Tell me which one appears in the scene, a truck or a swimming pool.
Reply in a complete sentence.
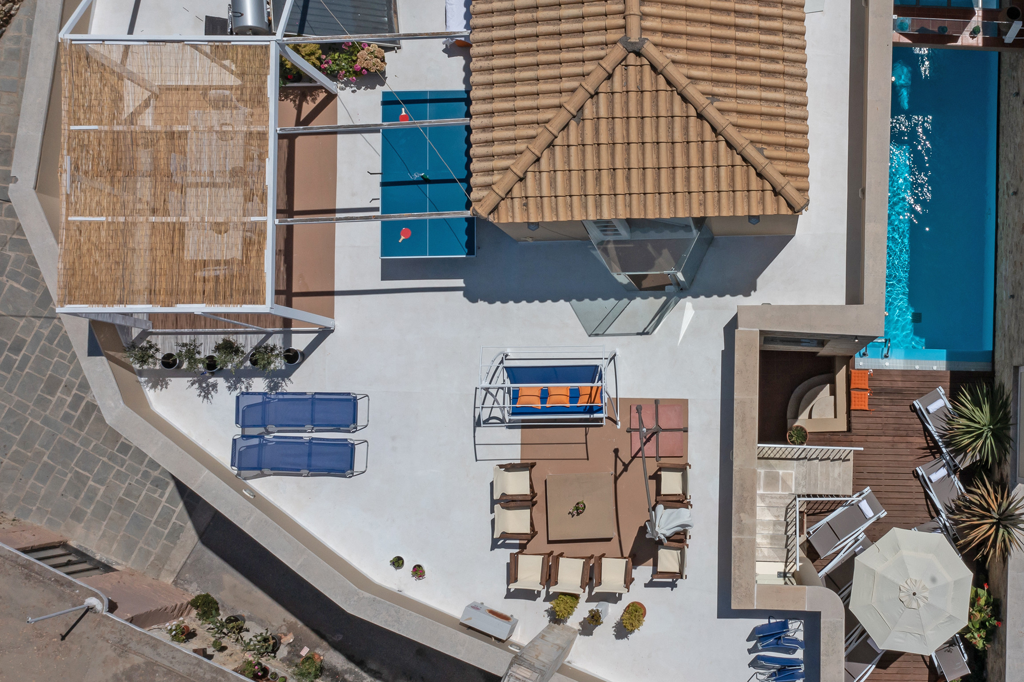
The one in the frame is a swimming pool.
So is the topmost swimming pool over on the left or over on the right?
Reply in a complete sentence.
It is on the right.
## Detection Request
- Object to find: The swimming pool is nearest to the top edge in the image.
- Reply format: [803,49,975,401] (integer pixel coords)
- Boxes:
[852,47,990,360]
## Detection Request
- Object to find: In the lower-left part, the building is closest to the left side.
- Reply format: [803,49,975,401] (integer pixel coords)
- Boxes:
[0,508,248,682]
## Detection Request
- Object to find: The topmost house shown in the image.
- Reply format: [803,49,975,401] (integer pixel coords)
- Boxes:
[464,0,814,238]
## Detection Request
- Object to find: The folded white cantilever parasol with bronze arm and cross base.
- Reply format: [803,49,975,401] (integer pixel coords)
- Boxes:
[624,398,708,544]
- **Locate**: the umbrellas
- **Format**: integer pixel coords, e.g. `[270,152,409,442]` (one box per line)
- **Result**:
[849,527,973,656]
[624,398,708,544]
